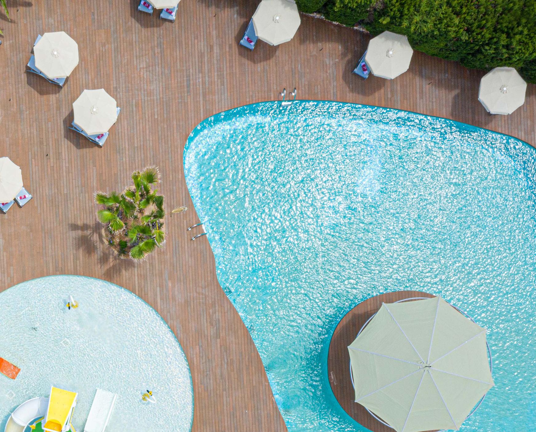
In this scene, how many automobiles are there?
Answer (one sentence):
The picture shows no automobiles.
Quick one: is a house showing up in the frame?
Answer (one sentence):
No, there isn't any house down there.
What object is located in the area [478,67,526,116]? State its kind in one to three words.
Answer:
umbrella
